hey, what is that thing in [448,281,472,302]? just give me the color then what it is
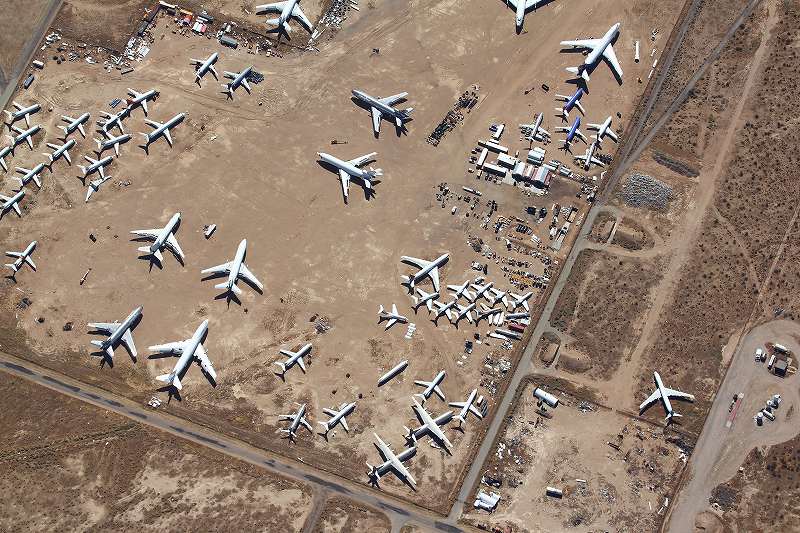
white airplane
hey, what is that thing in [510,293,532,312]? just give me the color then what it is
white airplane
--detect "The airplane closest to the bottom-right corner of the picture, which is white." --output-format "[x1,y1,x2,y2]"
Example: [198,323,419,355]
[639,372,693,419]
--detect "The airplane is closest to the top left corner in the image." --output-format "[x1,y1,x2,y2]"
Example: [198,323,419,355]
[9,102,40,125]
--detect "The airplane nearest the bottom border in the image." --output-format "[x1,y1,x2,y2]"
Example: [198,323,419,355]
[368,435,418,487]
